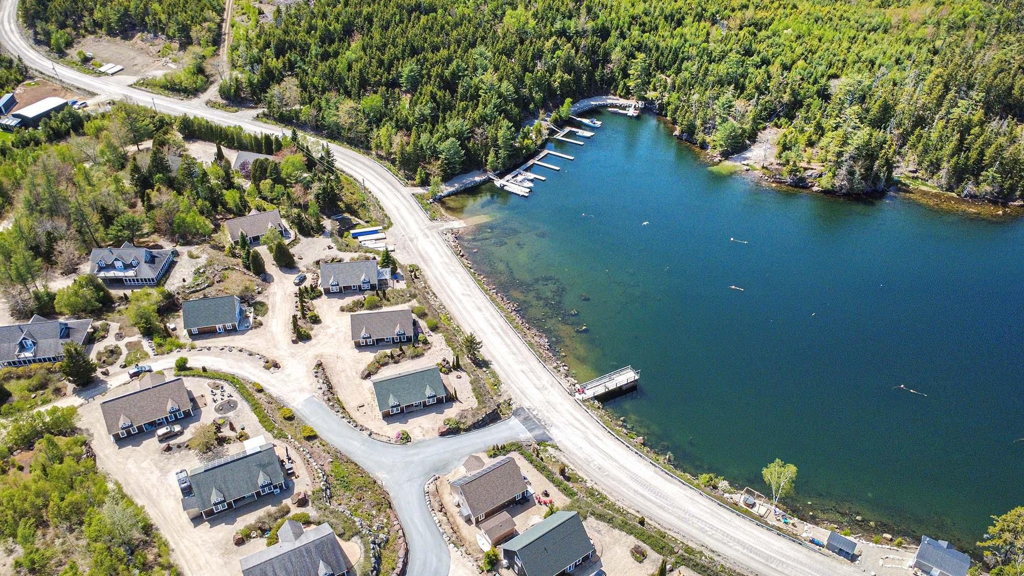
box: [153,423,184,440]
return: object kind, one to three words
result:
car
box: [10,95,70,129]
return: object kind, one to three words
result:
barn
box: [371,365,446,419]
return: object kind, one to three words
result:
house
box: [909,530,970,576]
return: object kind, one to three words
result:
house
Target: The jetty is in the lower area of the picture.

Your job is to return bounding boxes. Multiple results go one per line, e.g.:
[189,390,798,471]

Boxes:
[574,363,645,403]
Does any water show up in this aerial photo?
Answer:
Yes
